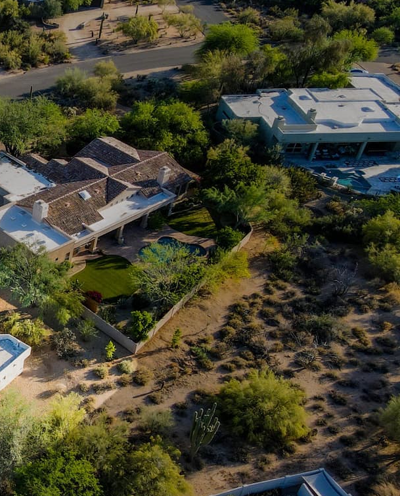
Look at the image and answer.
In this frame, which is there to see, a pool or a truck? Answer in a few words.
pool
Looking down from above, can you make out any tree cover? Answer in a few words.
Yes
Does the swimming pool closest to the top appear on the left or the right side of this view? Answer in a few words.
right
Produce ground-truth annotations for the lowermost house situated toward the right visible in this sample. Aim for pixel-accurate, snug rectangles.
[213,74,400,164]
